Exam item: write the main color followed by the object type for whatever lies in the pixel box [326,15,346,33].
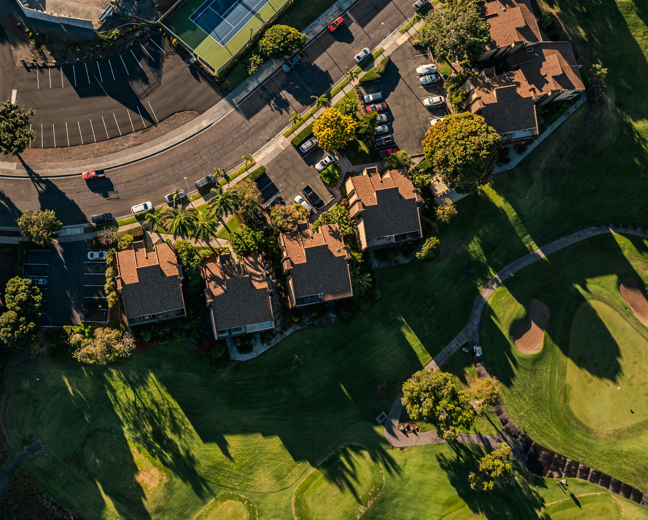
red car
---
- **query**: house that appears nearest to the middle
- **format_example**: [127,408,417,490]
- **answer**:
[278,218,355,306]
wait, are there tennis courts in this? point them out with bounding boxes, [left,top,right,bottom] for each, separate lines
[169,0,283,69]
[189,0,268,46]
